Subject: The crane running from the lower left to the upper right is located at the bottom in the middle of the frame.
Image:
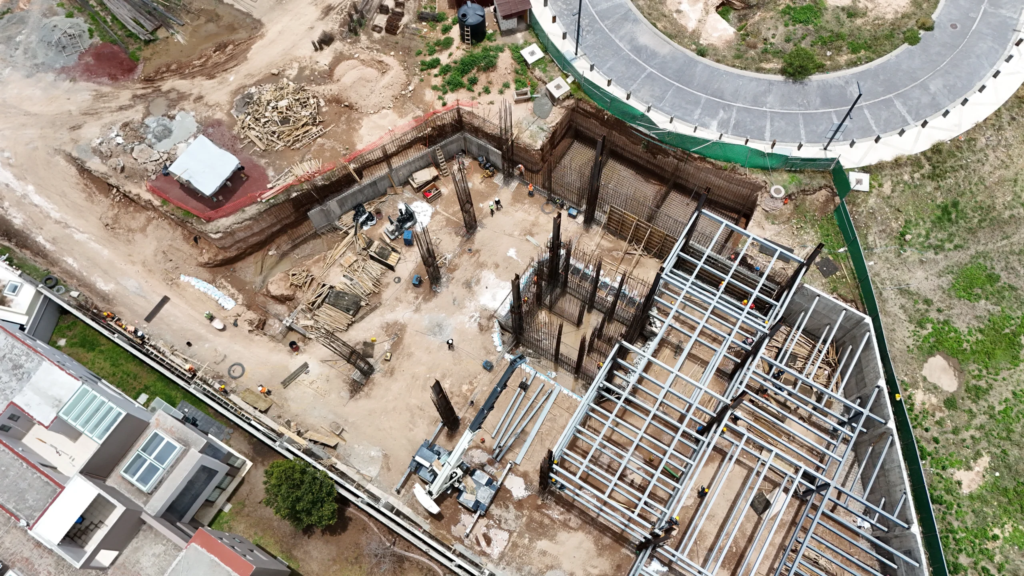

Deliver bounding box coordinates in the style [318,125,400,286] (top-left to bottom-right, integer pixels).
[391,347,528,541]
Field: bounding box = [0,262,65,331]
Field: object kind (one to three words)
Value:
house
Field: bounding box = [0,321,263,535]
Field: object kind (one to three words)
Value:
house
